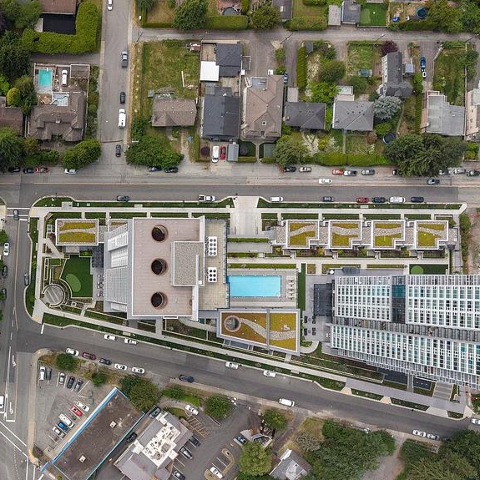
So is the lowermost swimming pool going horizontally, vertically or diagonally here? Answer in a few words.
horizontally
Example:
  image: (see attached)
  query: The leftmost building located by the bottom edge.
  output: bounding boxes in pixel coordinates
[41,387,144,480]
